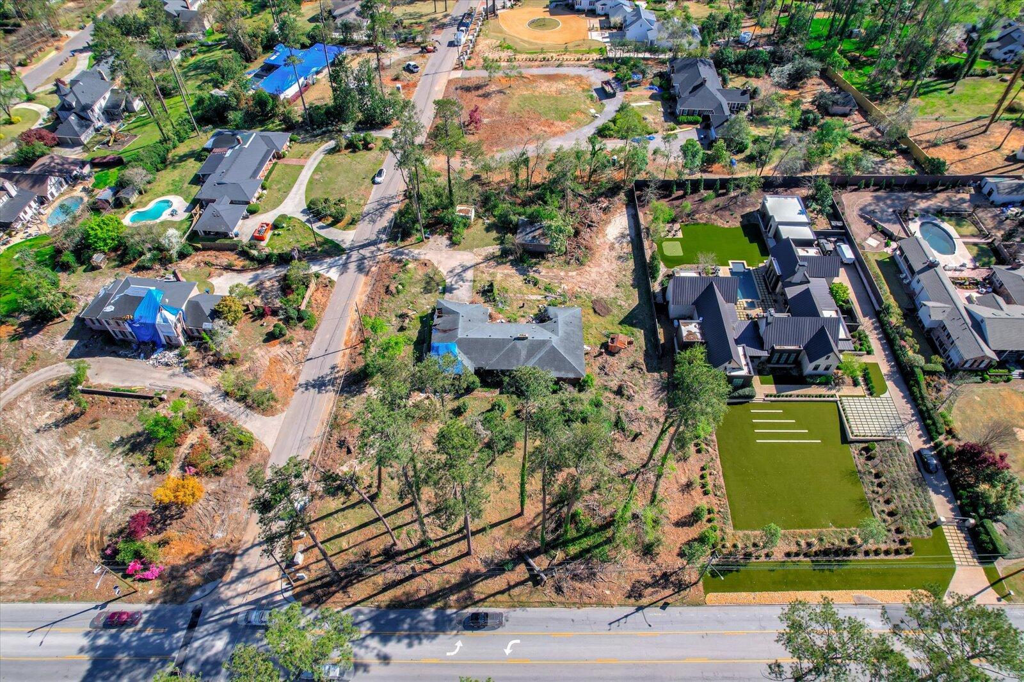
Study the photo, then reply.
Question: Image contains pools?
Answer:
Yes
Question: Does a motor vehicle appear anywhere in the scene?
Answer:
Yes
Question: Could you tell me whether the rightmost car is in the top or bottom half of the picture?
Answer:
bottom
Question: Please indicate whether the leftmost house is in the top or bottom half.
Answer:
top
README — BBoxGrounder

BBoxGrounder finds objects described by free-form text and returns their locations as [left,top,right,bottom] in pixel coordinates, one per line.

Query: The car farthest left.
[99,610,140,628]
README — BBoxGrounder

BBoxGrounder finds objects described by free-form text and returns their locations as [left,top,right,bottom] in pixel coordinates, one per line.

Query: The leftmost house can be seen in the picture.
[0,150,89,233]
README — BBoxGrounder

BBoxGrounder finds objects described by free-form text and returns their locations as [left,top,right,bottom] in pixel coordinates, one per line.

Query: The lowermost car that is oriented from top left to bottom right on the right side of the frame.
[914,445,945,474]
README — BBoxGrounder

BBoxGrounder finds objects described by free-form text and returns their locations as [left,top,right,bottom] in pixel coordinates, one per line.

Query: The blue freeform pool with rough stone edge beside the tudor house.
[46,194,84,228]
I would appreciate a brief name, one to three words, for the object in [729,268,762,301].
swimming pool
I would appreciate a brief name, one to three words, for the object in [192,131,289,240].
house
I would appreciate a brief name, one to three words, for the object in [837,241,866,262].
truck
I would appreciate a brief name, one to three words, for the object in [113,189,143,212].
shed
